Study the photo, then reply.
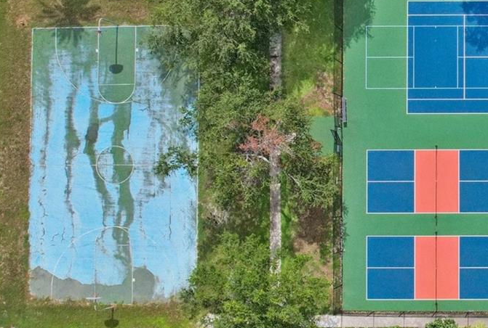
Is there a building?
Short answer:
No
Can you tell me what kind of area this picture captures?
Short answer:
sports ground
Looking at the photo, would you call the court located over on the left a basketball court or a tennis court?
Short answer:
basketball court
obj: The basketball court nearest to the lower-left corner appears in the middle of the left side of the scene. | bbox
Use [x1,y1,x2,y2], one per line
[28,25,198,303]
